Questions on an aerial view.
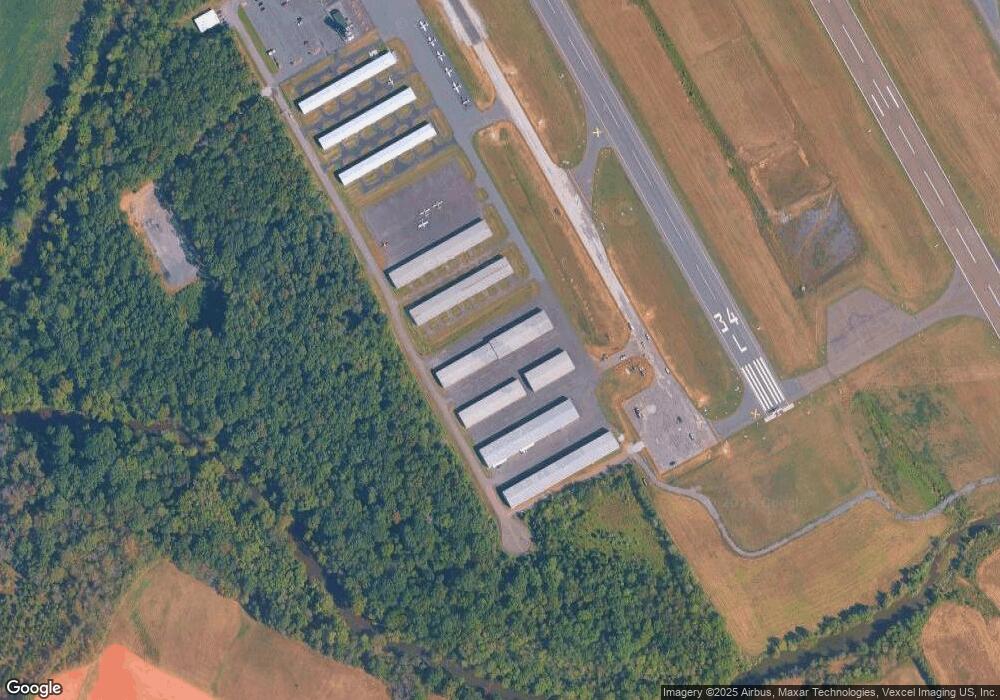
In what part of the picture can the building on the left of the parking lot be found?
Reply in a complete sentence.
The building on the left of the parking lot appears toward the top left of the photo.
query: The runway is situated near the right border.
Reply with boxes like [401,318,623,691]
[810,0,1000,335]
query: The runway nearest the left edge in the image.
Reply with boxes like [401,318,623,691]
[528,0,793,420]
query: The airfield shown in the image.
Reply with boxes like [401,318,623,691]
[284,0,1000,495]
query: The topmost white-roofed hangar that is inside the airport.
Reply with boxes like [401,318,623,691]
[298,50,396,114]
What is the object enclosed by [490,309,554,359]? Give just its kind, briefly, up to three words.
hangar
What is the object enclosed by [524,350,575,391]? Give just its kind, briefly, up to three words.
hangar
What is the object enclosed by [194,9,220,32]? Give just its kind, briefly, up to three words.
building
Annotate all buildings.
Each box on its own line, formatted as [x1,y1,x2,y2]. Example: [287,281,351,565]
[524,350,575,391]
[318,87,416,151]
[409,257,513,326]
[437,344,497,389]
[479,399,580,469]
[298,50,396,114]
[458,379,526,429]
[194,9,220,32]
[503,432,619,509]
[389,220,493,289]
[490,309,554,359]
[338,123,437,185]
